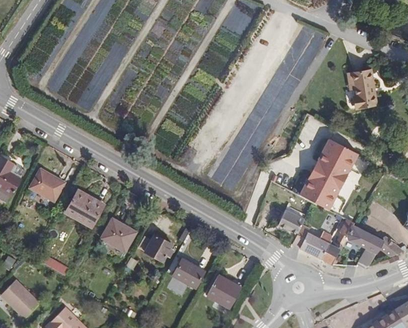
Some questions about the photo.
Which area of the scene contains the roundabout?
bottom right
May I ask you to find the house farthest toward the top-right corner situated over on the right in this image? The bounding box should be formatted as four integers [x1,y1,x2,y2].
[350,69,376,111]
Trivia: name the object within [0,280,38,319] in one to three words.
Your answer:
house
